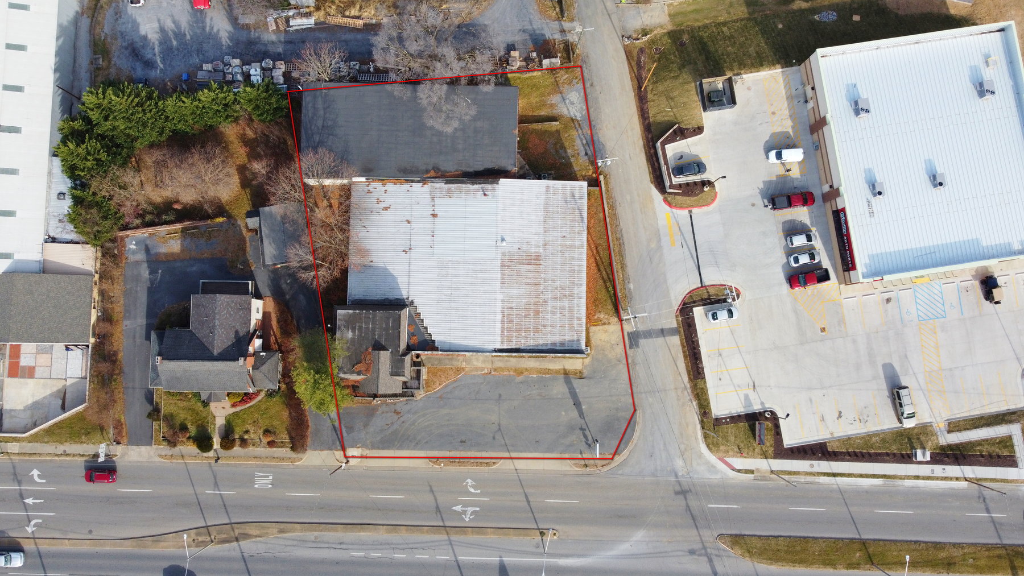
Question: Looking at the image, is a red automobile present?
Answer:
Yes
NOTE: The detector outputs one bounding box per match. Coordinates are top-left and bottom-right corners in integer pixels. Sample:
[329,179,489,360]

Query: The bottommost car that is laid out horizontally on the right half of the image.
[705,306,740,324]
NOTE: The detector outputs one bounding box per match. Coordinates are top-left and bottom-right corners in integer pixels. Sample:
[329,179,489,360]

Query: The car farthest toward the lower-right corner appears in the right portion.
[892,387,917,426]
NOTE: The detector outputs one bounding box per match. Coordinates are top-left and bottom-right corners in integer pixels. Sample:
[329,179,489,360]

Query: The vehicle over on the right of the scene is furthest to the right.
[978,275,1005,306]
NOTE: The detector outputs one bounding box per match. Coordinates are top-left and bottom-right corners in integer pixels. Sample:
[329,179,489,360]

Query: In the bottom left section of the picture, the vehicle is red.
[85,469,119,485]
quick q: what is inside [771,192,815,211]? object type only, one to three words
vehicle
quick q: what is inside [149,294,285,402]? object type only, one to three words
house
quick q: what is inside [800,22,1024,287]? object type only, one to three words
building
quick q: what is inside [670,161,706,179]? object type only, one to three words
car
